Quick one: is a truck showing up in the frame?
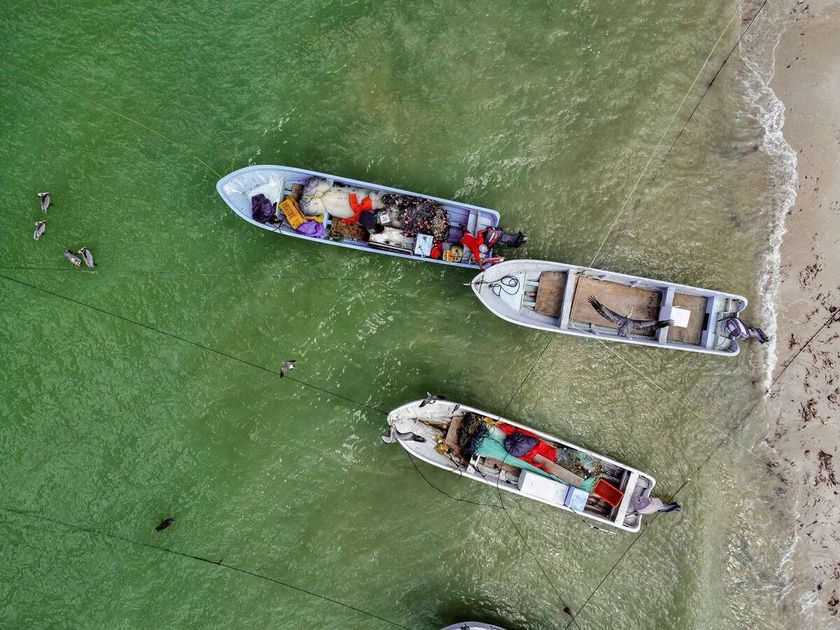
No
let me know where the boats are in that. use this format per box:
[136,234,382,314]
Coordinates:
[470,257,773,356]
[386,402,684,530]
[436,618,518,630]
[217,162,529,269]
